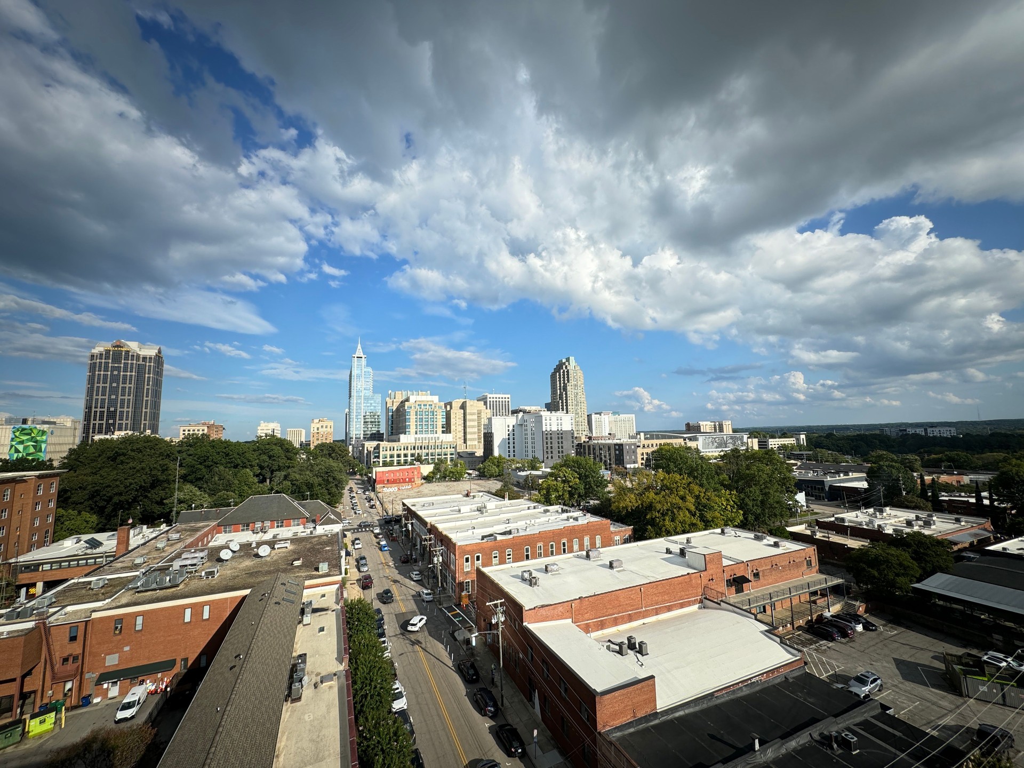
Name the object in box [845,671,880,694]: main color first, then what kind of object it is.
gray car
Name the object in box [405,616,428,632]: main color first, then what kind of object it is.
white car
